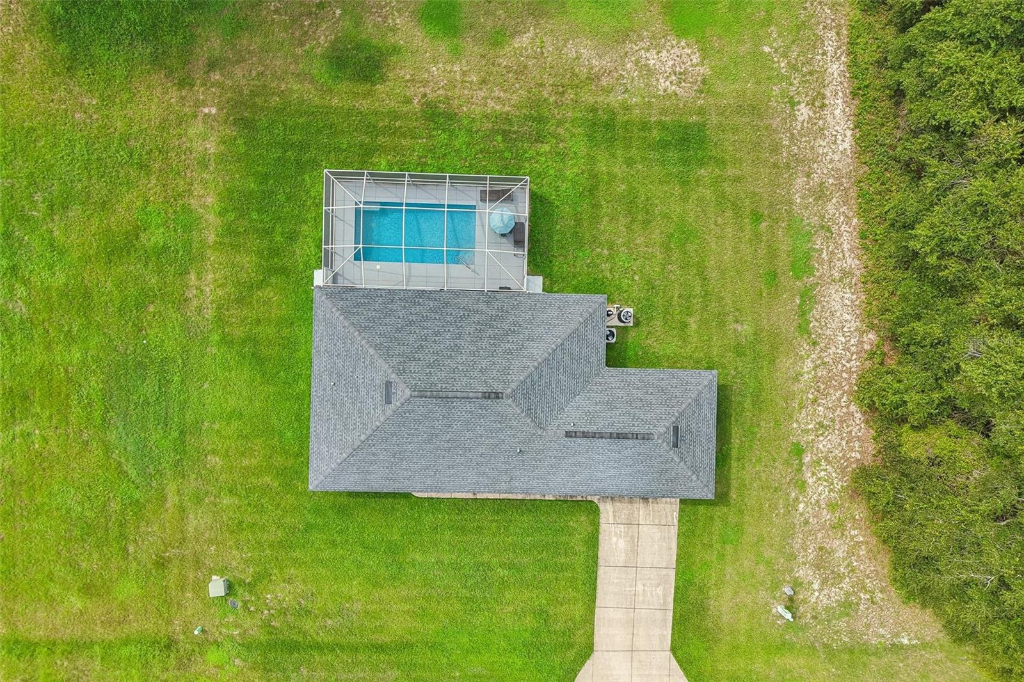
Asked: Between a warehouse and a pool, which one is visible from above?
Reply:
pool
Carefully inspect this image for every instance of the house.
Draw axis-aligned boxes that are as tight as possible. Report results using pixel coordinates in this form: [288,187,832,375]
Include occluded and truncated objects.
[307,285,719,499]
